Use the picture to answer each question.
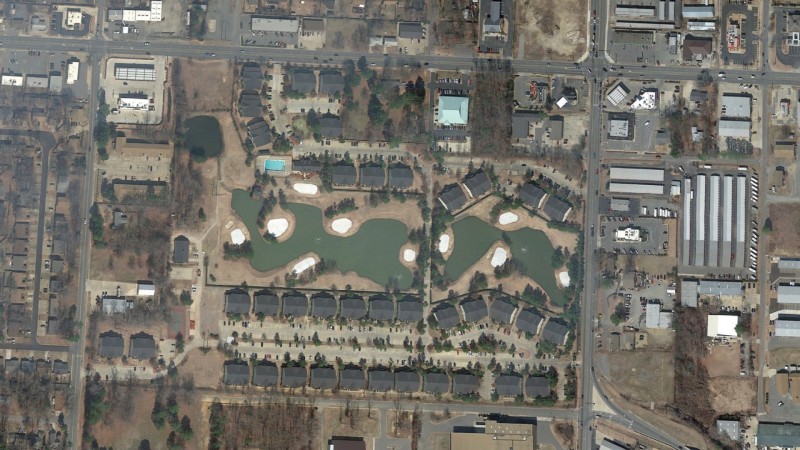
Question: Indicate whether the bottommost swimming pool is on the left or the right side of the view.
left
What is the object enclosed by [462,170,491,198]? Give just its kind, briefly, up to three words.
building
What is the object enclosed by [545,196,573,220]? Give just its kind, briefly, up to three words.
building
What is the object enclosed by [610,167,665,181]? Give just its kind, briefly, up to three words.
shed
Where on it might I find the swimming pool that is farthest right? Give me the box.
[256,156,292,176]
